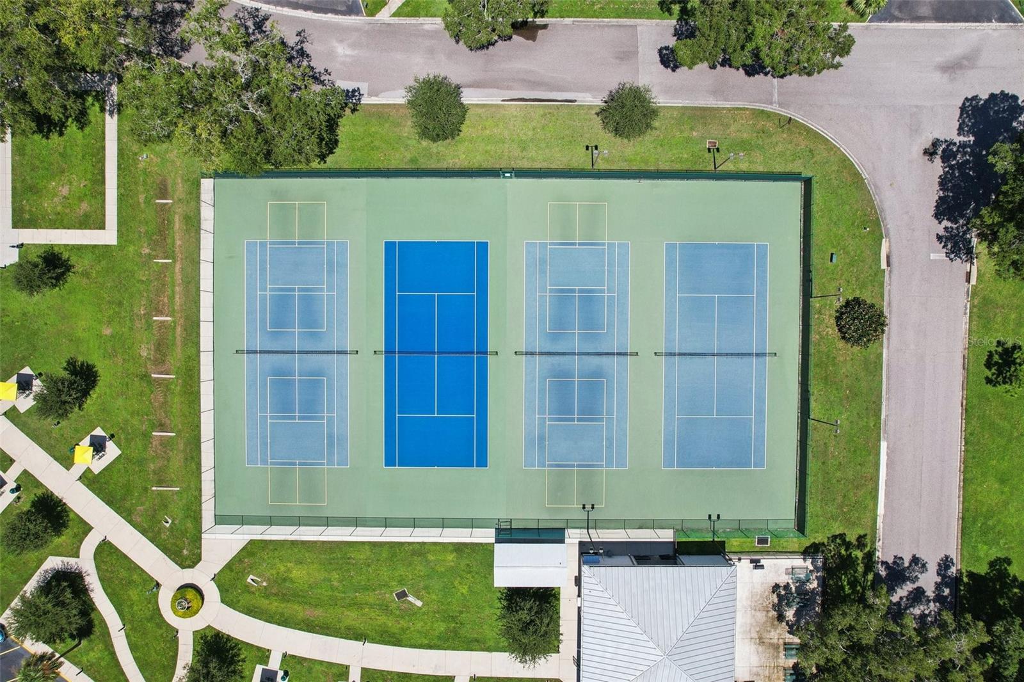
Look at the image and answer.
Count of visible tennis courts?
4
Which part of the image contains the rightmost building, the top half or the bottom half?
bottom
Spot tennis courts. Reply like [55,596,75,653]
[507,179,648,530]
[214,179,367,528]
[366,179,507,529]
[647,179,802,530]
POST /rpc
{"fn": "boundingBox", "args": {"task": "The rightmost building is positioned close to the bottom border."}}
[580,555,737,682]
